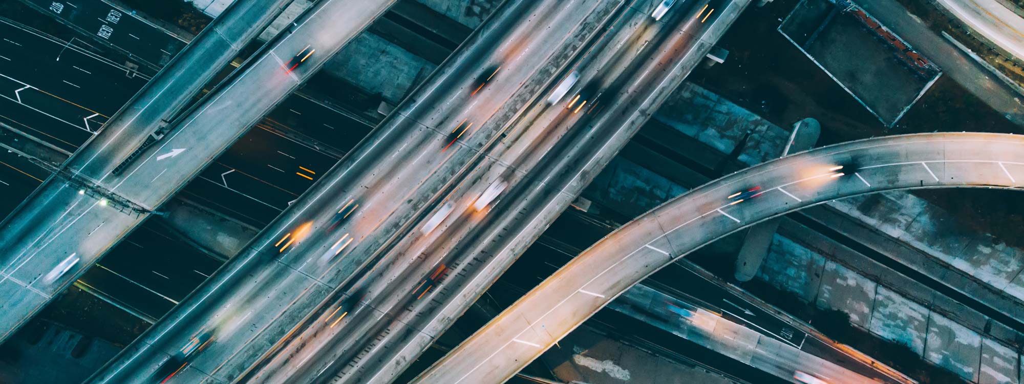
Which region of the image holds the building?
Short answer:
top right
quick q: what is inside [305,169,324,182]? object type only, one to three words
vehicle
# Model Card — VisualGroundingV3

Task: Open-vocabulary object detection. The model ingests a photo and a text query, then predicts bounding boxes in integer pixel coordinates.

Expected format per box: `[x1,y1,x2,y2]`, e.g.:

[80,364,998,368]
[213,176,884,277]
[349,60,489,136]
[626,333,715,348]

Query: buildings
[775,0,942,127]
